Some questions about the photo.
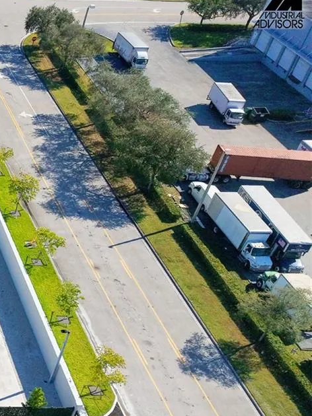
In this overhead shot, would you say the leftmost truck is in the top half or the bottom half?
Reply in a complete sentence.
The top half of the photo is where the leftmost truck is.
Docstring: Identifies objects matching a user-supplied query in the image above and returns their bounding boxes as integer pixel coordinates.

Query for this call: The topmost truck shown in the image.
[115,33,149,71]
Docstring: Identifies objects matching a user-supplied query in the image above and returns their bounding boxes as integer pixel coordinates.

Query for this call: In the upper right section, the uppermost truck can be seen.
[209,84,247,129]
